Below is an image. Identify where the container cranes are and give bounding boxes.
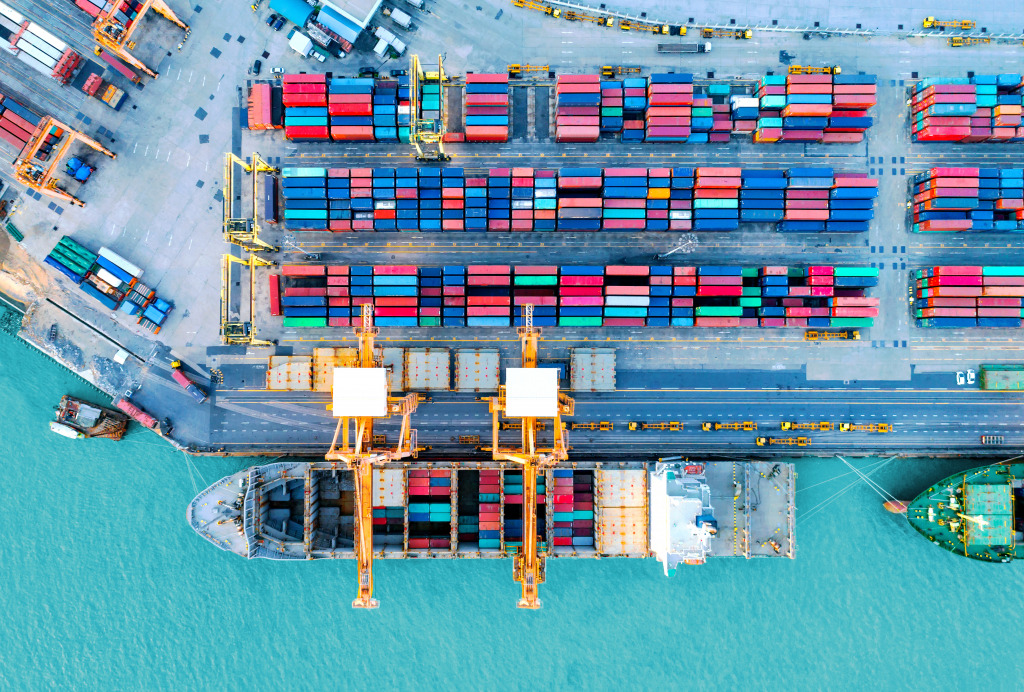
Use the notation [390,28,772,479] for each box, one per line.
[406,51,453,160]
[220,256,280,344]
[222,151,283,252]
[6,115,121,209]
[481,303,584,607]
[326,303,434,607]
[88,0,194,79]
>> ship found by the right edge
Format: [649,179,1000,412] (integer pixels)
[884,458,1024,564]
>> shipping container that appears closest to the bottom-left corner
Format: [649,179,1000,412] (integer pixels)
[118,399,160,428]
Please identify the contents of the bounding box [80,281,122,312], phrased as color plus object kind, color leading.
blue shipping container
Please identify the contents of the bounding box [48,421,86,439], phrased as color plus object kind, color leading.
white boat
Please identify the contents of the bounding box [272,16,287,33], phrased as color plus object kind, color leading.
blue car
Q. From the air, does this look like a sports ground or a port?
port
